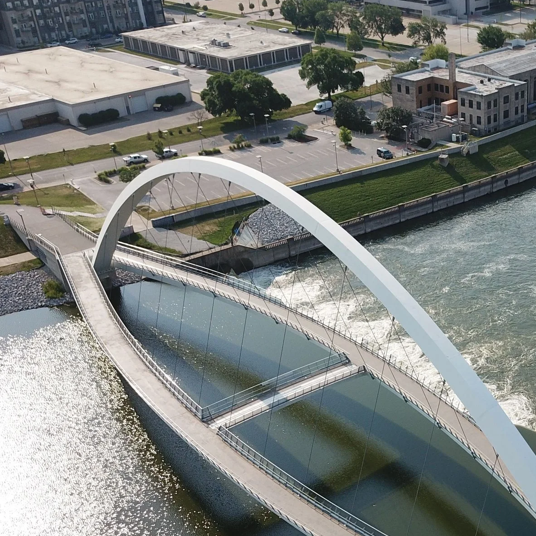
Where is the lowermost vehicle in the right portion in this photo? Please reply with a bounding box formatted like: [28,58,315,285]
[377,146,392,158]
